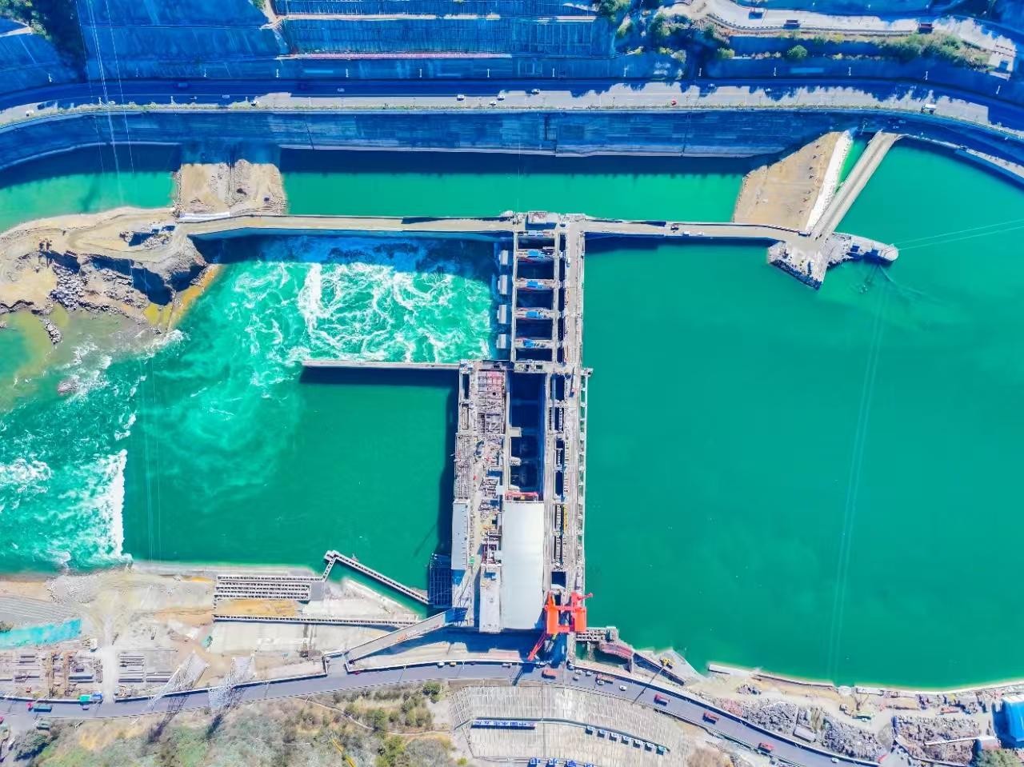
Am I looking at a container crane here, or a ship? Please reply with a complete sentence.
Of the two, only a container crane appears.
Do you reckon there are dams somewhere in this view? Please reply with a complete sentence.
Yes, there's a dam here.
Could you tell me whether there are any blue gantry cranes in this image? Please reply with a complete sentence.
No, I can see no blue gantry crane in this picture.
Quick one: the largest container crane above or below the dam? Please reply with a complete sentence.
The largest container crane is below the dam.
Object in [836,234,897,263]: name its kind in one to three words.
pier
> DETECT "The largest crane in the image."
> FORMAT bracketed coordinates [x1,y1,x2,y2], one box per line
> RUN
[524,588,592,663]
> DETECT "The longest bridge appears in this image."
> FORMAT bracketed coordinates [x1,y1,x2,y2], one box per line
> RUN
[326,604,467,674]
